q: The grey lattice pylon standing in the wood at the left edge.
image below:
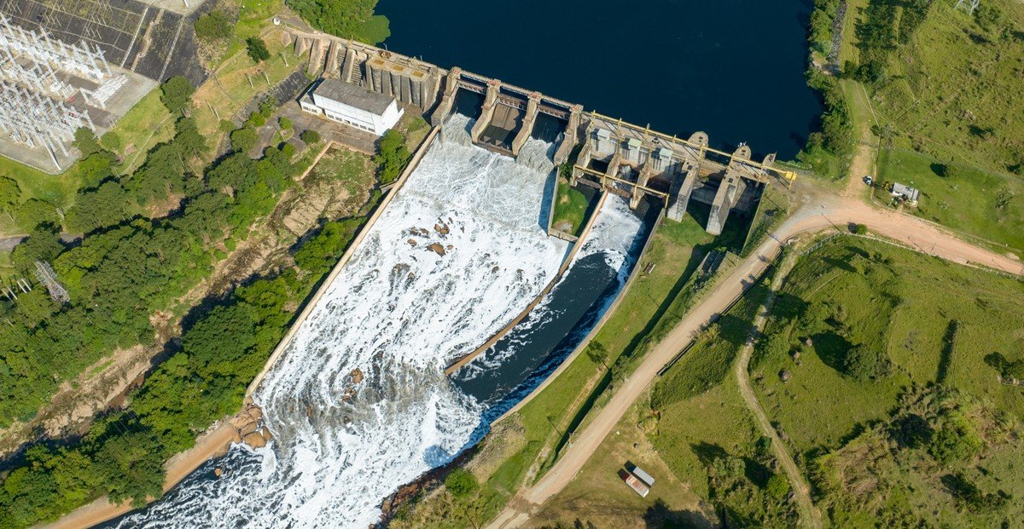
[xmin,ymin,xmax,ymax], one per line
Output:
[29,257,69,307]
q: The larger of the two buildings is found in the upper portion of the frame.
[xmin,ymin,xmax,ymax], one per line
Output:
[299,76,403,134]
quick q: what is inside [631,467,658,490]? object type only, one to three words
truck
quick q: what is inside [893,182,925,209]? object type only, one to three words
house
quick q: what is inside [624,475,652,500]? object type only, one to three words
truck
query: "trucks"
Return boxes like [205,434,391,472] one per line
[624,475,652,500]
[631,467,658,490]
